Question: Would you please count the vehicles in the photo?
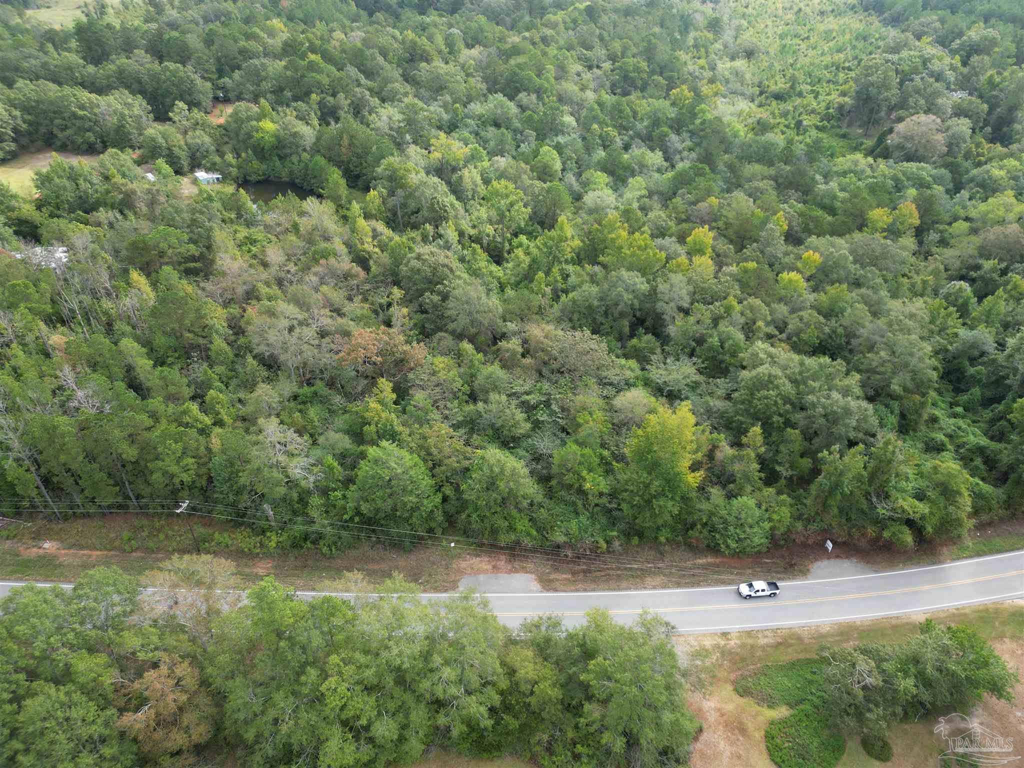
1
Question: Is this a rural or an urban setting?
rural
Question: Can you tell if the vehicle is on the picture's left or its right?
right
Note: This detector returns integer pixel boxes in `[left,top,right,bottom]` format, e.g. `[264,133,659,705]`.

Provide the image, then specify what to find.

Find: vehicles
[737,580,783,600]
